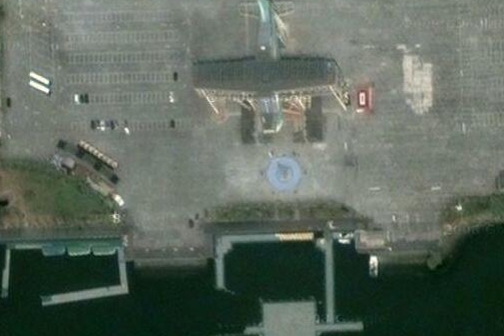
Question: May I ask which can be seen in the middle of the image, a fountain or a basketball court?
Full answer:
You can see a fountain in the middle of the image.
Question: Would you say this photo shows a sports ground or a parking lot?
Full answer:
This looks like a parking lot.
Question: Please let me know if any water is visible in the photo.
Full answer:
Yes, there is water in the image.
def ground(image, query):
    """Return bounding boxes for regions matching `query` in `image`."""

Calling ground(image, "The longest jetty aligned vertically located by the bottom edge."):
[316,229,364,332]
